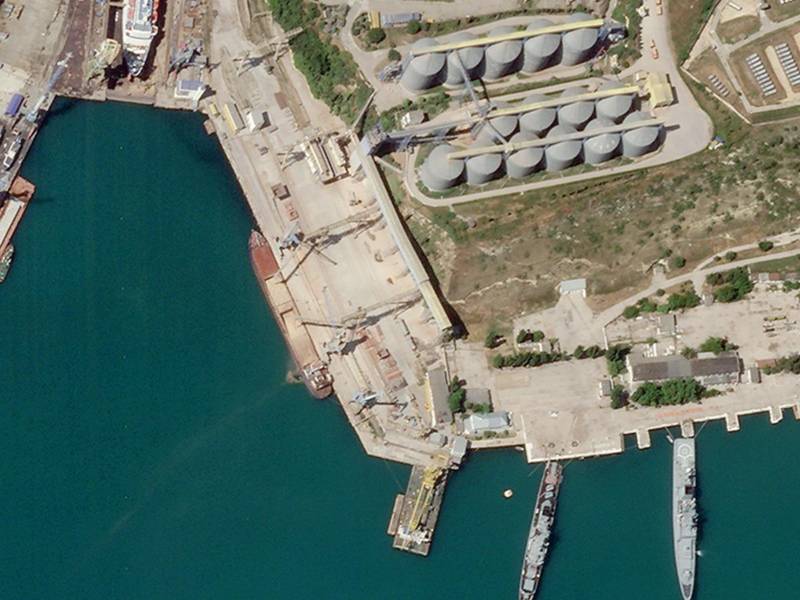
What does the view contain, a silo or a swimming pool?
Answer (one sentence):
The image shows a silo.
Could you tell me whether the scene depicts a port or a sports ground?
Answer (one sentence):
The area seen from above is a port.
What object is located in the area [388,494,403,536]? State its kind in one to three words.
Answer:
ship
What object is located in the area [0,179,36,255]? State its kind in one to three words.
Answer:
ship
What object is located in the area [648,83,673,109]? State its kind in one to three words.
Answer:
building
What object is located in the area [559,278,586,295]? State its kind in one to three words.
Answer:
building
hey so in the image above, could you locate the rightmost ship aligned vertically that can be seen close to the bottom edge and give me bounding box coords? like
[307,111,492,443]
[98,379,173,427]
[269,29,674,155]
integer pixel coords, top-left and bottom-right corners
[673,437,696,600]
